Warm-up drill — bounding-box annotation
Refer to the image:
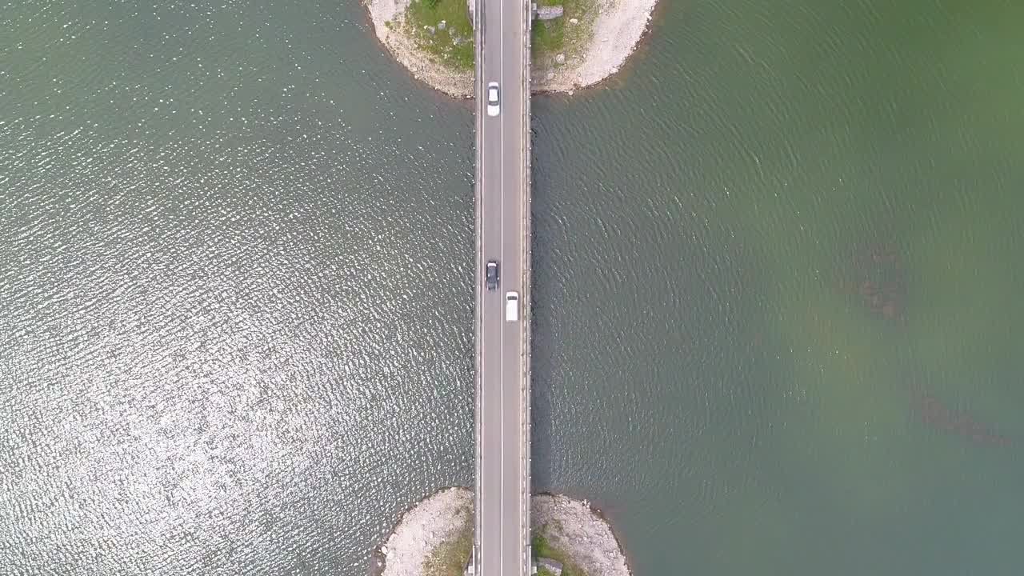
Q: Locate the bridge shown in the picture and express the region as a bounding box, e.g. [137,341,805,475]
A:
[473,25,532,548]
